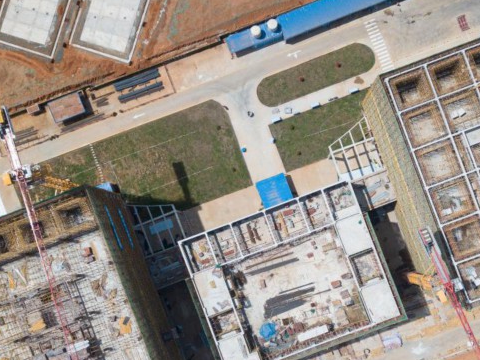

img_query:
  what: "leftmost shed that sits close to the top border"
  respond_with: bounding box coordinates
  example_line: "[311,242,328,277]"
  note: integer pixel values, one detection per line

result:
[223,15,284,62]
